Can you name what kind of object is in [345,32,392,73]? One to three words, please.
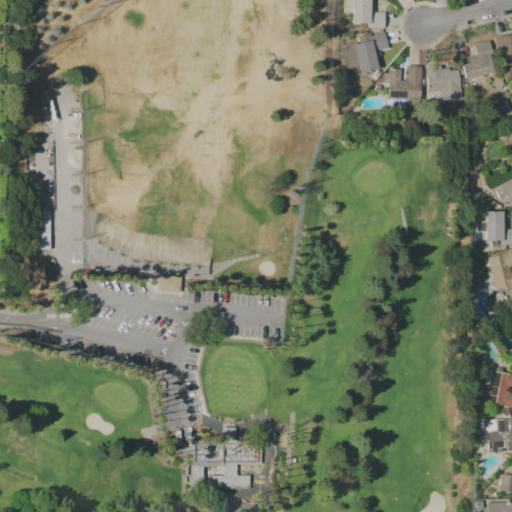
house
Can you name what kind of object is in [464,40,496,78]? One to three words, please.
house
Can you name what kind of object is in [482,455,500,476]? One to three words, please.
swimming pool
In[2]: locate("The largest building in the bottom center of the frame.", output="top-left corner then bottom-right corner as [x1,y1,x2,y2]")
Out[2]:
[206,464,253,488]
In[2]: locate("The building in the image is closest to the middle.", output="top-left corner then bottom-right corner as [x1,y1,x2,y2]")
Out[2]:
[158,276,183,292]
